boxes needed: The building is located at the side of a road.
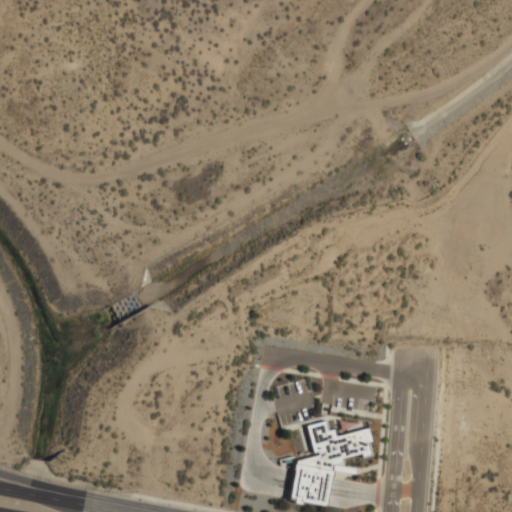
[292,420,374,506]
